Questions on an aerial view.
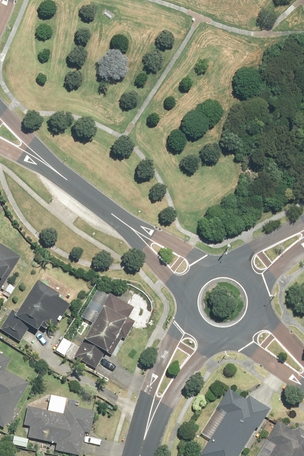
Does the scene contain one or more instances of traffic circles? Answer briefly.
Yes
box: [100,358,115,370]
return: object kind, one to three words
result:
vehicle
